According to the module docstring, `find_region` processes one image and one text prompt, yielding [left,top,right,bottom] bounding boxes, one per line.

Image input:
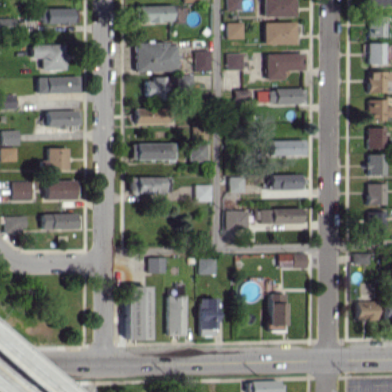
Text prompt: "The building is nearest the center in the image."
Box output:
[195,184,212,204]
